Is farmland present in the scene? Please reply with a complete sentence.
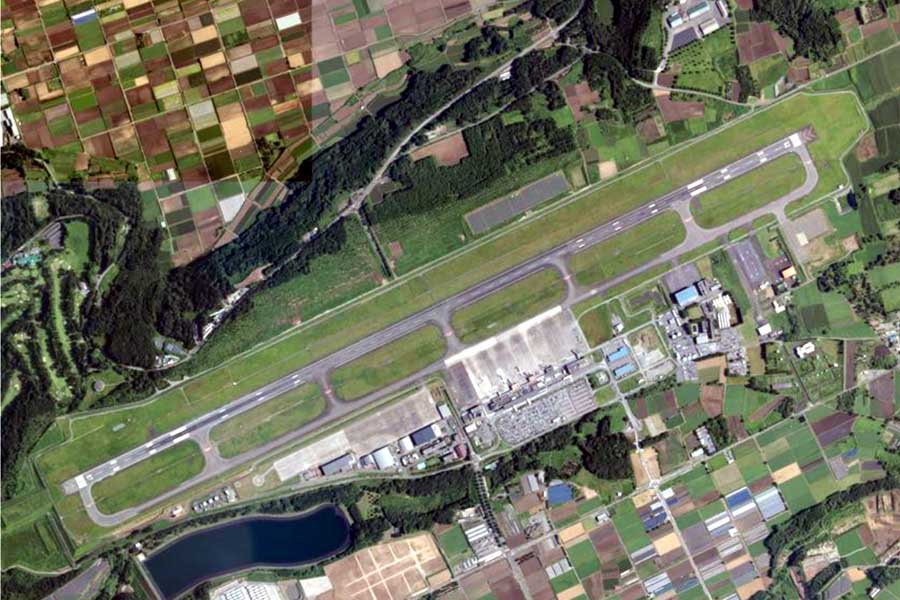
Yes, farmland shows up in the scene.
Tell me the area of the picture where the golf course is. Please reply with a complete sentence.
The golf course appears toward the left of the photo.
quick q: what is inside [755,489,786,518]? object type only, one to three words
greenhouse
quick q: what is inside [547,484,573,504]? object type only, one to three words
building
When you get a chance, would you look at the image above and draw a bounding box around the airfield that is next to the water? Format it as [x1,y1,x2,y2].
[37,91,868,555]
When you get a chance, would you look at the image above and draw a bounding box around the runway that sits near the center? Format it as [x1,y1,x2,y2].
[61,126,816,495]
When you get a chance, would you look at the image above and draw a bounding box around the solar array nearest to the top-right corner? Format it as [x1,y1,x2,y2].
[463,169,570,234]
